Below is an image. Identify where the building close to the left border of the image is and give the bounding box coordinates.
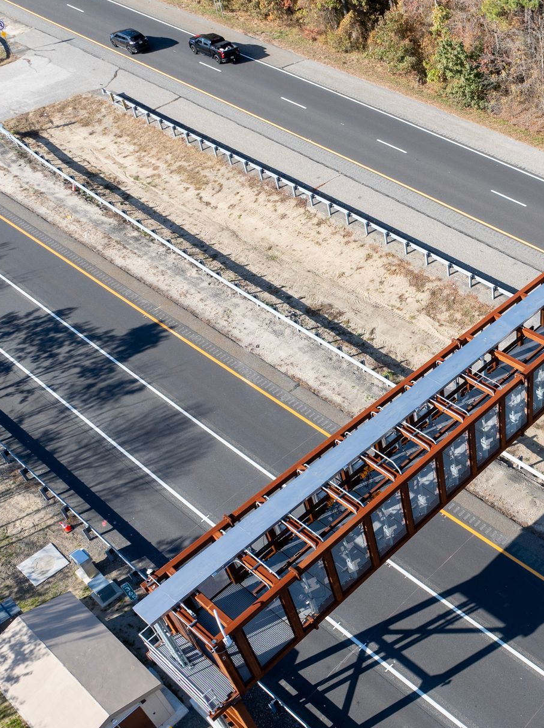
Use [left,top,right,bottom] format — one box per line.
[0,597,168,728]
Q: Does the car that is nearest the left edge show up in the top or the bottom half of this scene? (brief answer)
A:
top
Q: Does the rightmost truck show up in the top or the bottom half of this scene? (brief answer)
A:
top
